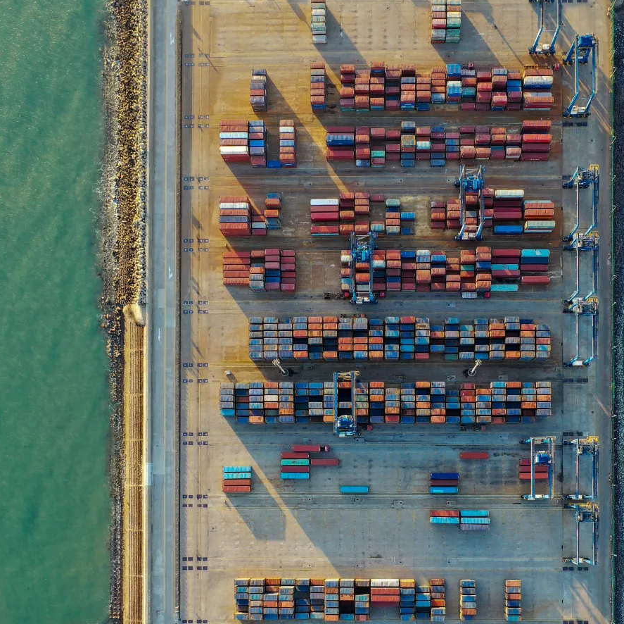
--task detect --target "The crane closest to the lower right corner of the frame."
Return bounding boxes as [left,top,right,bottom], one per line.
[564,503,605,568]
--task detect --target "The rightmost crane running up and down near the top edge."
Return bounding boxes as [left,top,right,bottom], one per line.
[565,30,605,115]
